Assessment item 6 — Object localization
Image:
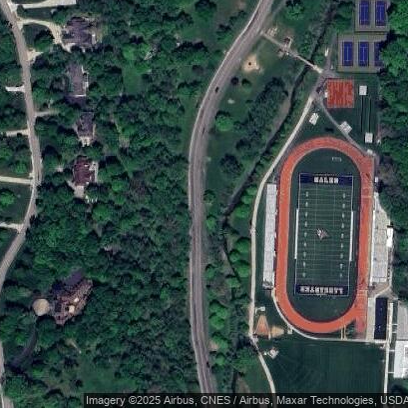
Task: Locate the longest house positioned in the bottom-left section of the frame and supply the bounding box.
[55,275,95,326]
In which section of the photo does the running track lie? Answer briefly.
right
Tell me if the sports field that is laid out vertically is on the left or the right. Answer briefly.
right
